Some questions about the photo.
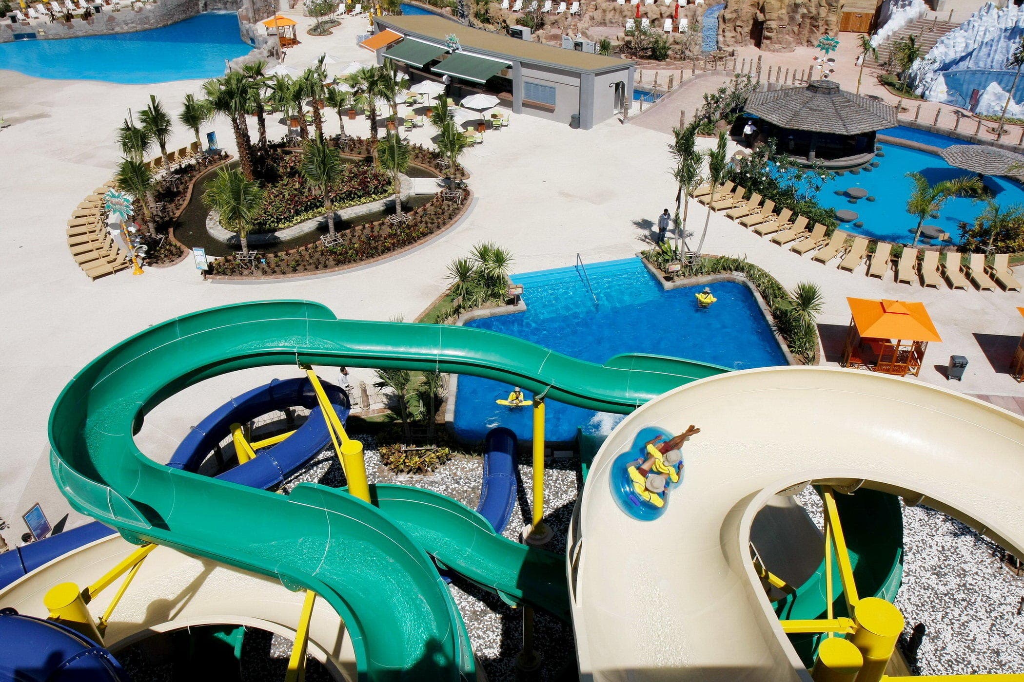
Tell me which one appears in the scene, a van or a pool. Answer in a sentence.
I can see a pool in this picture.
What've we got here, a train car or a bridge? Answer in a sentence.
Looking from above, you can make out a bridge.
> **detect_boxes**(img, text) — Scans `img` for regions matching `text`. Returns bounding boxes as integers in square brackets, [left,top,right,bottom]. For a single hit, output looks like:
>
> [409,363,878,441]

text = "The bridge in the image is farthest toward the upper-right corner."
[620,69,775,137]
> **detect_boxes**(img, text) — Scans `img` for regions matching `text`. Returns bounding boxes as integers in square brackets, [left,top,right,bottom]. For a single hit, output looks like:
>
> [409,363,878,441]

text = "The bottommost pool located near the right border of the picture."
[734,129,1024,246]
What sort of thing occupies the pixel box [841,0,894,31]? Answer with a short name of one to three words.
building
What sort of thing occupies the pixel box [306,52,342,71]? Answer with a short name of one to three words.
umbrella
